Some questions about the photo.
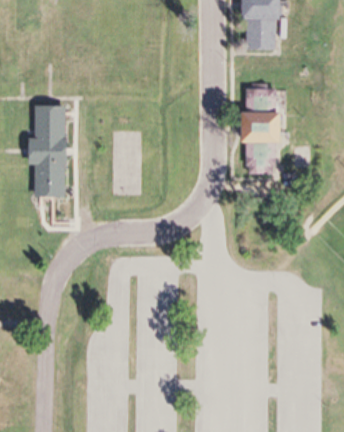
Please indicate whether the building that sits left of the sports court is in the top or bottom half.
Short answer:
top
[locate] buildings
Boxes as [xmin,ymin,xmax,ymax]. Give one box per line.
[241,82,280,174]
[28,105,67,196]
[242,0,288,50]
